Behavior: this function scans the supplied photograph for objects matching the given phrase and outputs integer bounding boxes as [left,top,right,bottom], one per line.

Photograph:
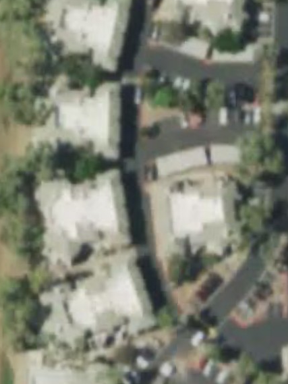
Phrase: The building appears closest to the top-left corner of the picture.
[46,0,133,71]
